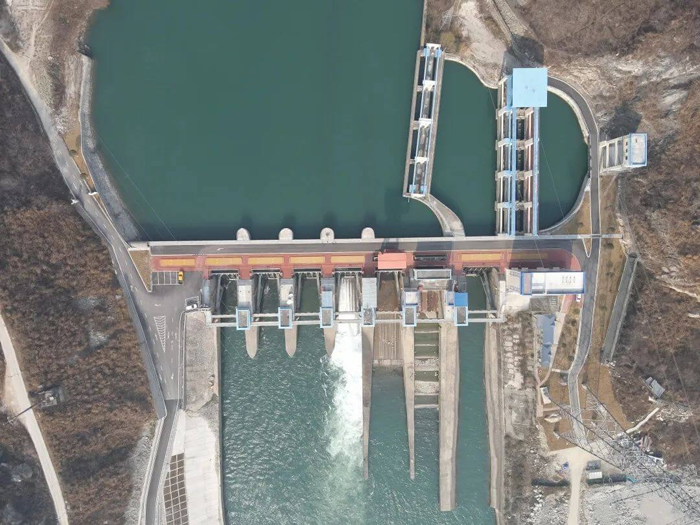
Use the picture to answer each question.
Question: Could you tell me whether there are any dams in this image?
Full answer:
Yes, the picture does show a dam.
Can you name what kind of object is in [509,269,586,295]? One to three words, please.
building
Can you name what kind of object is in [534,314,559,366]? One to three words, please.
house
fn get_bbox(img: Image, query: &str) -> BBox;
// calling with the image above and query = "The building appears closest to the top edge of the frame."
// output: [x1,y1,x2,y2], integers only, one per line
[497,68,547,108]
